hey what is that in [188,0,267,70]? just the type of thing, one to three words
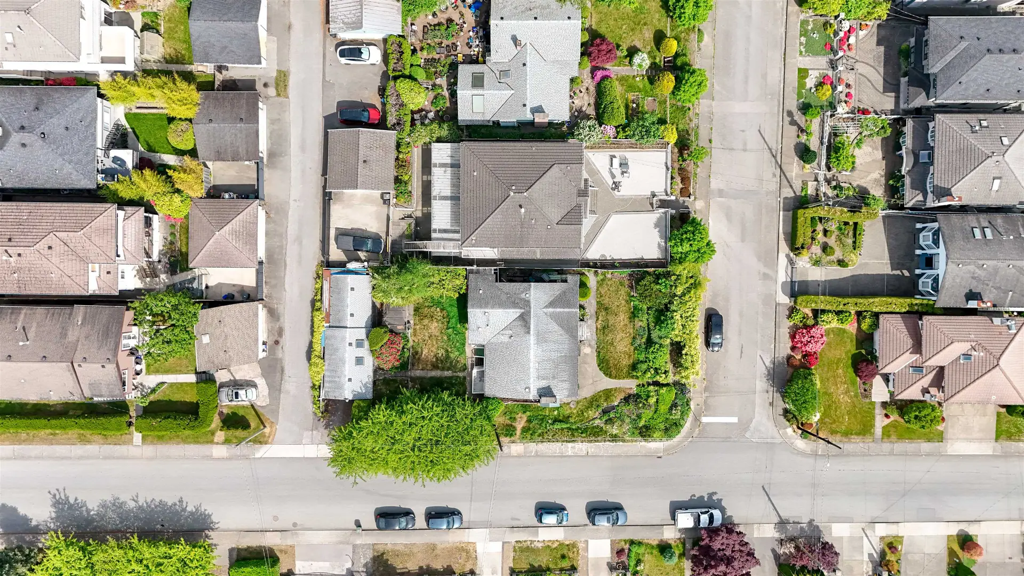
building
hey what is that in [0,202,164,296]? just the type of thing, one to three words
house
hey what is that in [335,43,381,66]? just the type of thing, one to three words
car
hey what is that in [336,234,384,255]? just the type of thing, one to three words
truck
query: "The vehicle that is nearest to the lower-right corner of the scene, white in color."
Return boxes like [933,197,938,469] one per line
[674,506,721,530]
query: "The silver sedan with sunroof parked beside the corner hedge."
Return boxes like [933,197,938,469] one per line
[219,385,259,405]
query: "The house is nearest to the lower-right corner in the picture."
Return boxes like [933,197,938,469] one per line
[869,314,1024,404]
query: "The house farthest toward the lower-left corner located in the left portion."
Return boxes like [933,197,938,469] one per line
[0,304,137,401]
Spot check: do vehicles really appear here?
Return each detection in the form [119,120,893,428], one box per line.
[674,506,721,530]
[219,385,259,405]
[338,104,382,127]
[535,505,569,526]
[335,43,381,66]
[588,505,627,527]
[704,312,725,353]
[376,510,416,531]
[425,509,463,531]
[336,234,384,255]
